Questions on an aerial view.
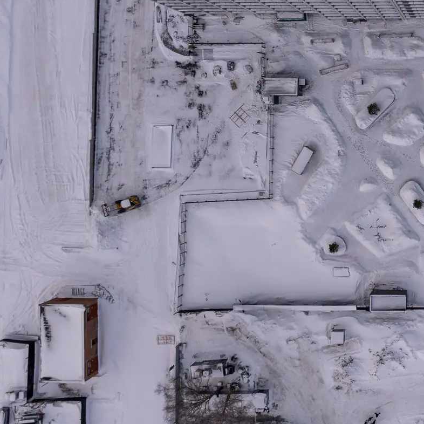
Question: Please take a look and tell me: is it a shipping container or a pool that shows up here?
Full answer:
The one in the frame is a shipping container.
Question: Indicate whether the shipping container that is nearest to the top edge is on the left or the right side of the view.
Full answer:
You can find the shipping container that is nearest to the top edge on the right side of the picture.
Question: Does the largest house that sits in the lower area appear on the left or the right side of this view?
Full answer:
The largest house that sits in the lower area sits on the left side.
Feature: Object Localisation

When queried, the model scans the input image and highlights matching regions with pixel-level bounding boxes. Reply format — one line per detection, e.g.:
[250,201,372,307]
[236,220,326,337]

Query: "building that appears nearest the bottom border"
[250,388,270,409]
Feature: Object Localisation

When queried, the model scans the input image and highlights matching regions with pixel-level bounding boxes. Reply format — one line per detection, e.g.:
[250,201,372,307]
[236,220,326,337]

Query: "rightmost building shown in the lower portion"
[370,290,408,312]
